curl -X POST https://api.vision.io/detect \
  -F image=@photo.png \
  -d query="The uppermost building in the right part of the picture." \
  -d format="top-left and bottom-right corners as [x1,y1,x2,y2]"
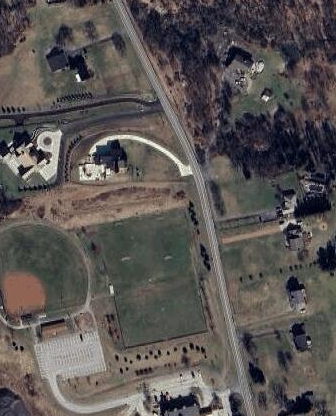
[222,48,256,70]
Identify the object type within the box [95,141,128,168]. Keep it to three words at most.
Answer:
house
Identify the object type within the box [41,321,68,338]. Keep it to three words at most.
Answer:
building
